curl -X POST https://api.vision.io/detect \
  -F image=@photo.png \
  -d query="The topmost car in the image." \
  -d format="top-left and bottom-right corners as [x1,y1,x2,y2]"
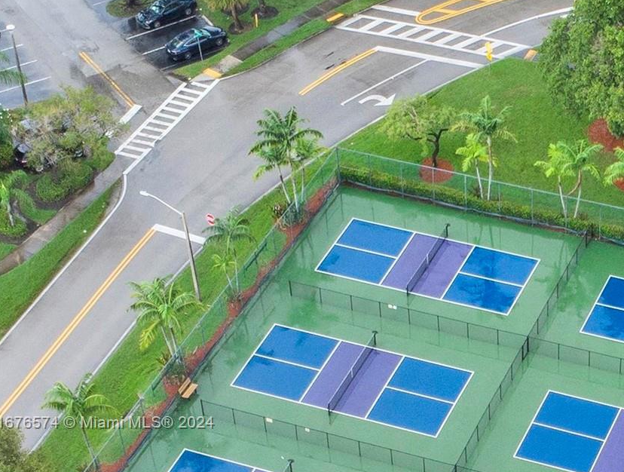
[137,0,200,34]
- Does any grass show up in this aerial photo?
Yes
